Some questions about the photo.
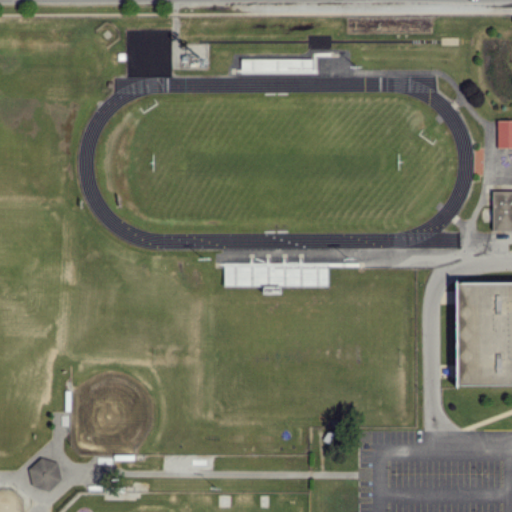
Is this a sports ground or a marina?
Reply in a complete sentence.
This image shows a sports ground.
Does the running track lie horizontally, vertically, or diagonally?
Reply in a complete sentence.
The running track is laid out horizontally.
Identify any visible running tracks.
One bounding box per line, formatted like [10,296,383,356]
[78,76,473,250]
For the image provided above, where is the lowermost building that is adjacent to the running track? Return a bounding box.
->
[456,280,512,388]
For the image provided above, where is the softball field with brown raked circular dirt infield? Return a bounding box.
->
[72,364,200,455]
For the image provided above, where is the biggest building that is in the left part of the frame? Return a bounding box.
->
[28,457,61,491]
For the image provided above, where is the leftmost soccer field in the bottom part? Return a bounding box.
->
[0,202,60,438]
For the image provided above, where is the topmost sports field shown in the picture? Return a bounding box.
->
[94,92,458,234]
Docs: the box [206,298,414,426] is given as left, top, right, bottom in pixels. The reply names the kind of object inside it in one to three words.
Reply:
sports field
